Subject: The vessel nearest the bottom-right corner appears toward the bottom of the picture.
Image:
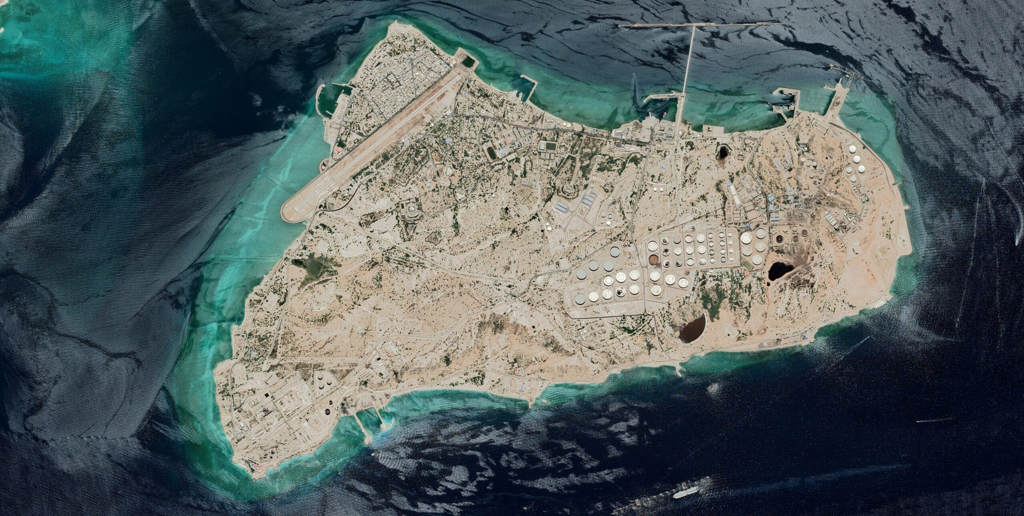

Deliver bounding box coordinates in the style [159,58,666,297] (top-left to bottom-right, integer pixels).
[673,486,698,499]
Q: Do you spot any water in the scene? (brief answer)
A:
Yes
